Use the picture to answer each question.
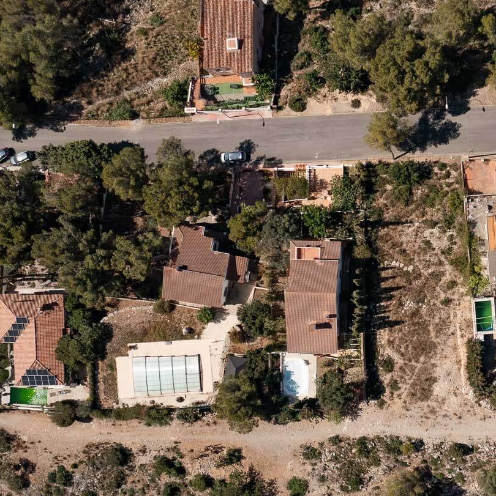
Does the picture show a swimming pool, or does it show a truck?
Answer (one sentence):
Looking from above, you can make out a swimming pool.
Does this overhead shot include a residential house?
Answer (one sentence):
Yes, the photo shows a residential house.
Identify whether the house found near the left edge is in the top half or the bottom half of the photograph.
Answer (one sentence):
You can find the house found near the left edge in the bottom half.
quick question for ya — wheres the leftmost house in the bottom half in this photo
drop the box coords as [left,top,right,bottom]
[0,293,73,387]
